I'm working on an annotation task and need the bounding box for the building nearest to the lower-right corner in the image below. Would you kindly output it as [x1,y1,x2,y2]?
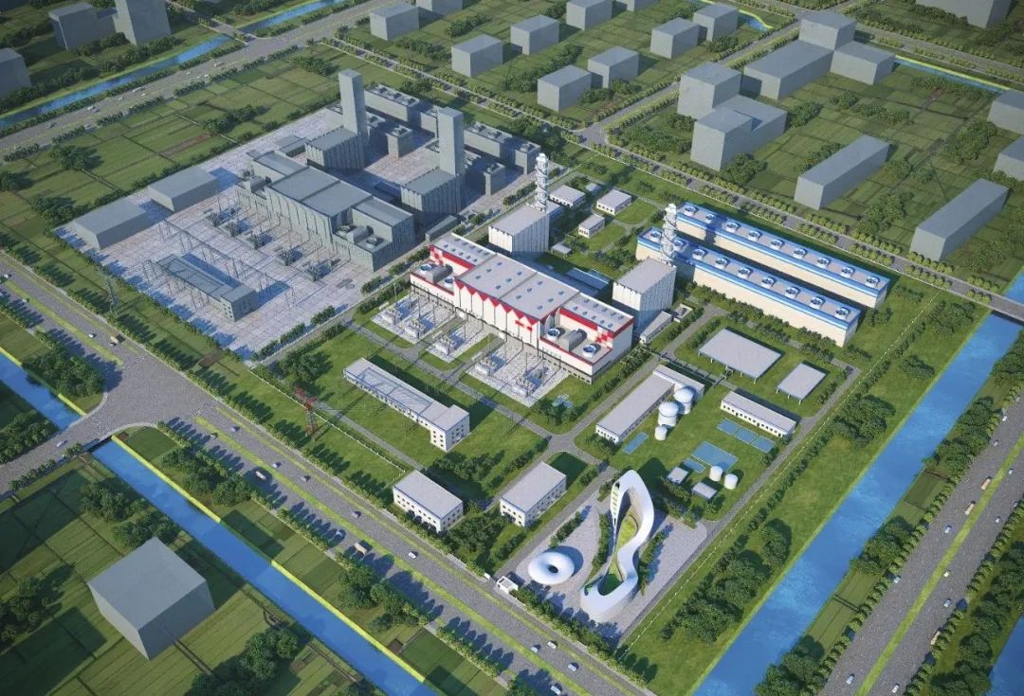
[720,391,796,440]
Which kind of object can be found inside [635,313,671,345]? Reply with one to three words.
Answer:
shed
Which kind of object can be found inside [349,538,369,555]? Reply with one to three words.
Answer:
vehicle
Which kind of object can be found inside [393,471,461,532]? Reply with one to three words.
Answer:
building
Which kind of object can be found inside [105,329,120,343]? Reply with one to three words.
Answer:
vehicle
